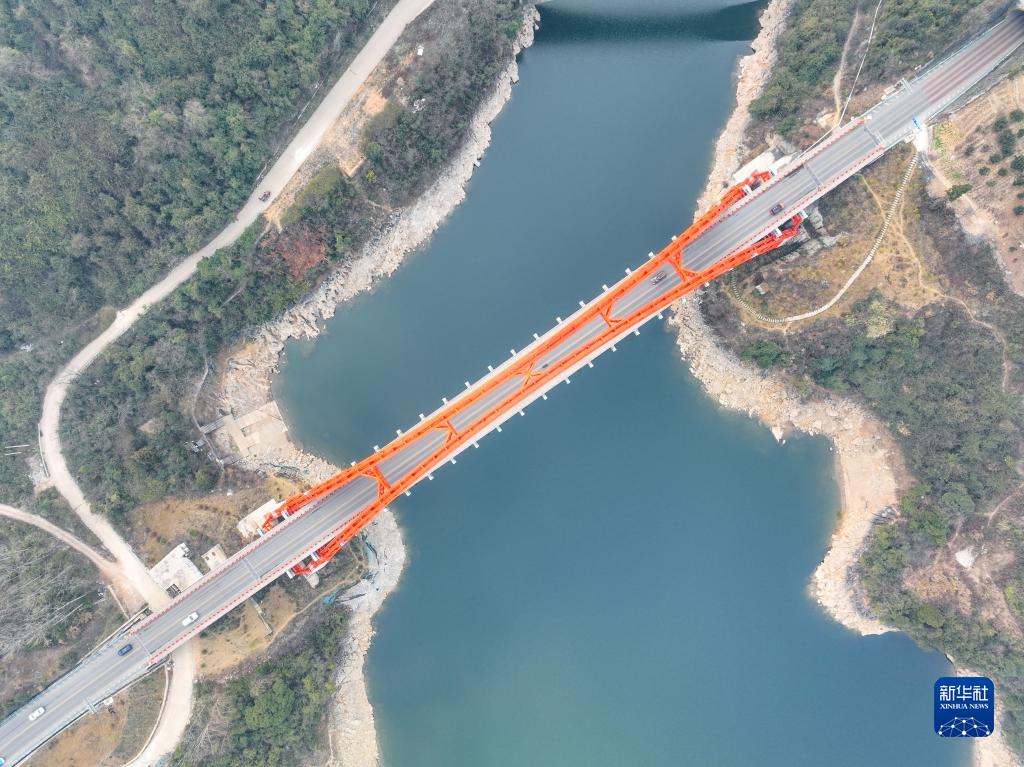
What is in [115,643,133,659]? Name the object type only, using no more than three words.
car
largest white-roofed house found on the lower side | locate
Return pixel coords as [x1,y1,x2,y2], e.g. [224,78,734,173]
[148,541,210,601]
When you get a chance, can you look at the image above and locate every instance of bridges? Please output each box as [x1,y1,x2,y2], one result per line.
[111,104,887,667]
